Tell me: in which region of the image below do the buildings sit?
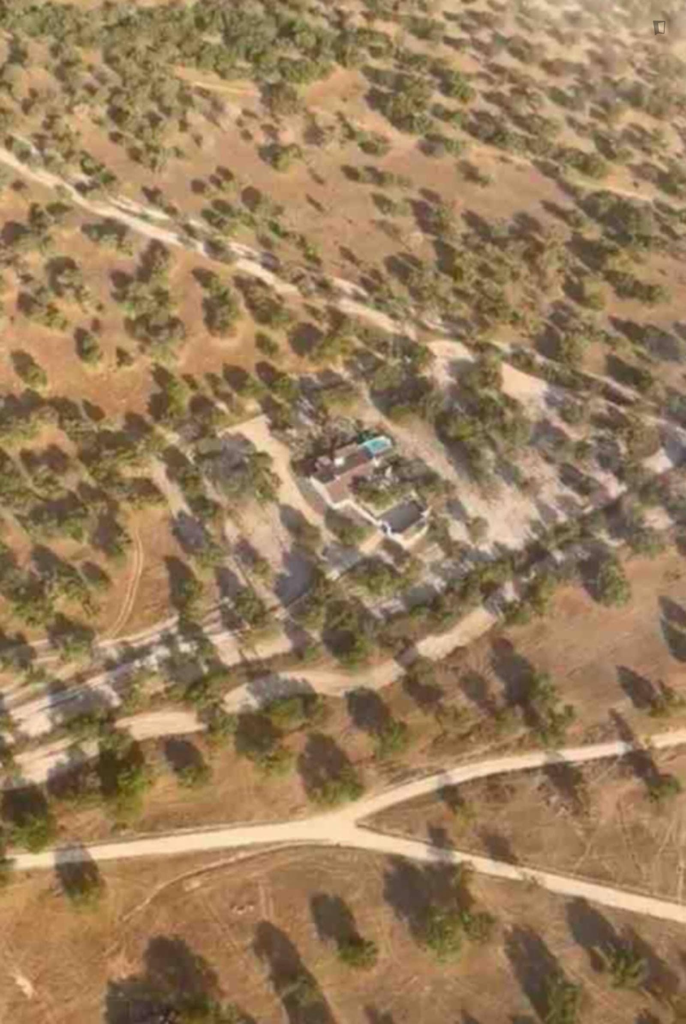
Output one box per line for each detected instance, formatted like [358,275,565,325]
[305,451,385,511]
[372,502,428,535]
